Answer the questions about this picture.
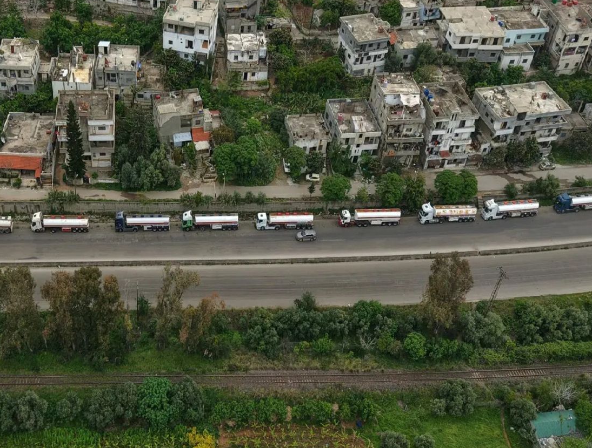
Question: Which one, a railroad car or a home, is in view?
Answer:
home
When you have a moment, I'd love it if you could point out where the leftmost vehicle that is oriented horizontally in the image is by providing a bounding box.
[30,210,88,232]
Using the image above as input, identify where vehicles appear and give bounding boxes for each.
[0,213,12,233]
[284,156,292,170]
[295,230,316,241]
[339,203,402,226]
[552,190,592,212]
[30,210,88,232]
[255,209,313,229]
[305,172,321,180]
[480,196,541,219]
[116,211,169,231]
[538,159,558,168]
[182,209,238,230]
[419,201,478,223]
